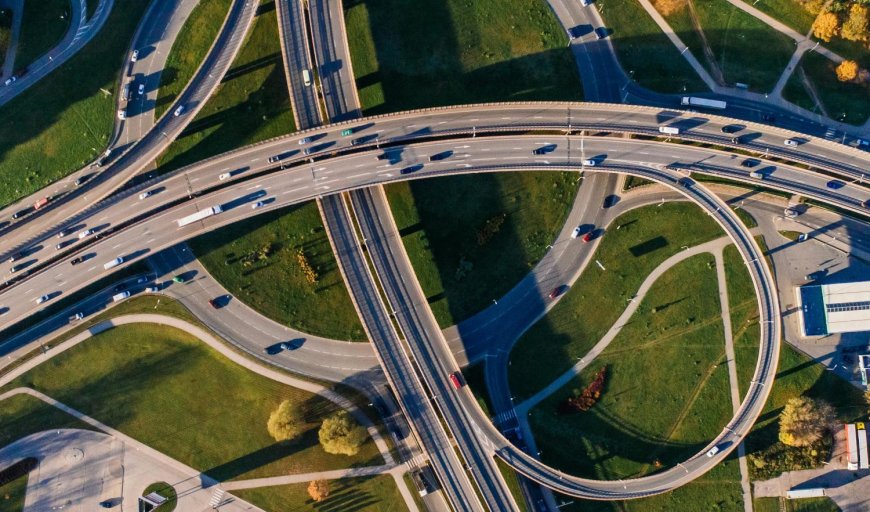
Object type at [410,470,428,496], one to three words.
vehicle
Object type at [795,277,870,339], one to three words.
building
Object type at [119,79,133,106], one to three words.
vehicle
